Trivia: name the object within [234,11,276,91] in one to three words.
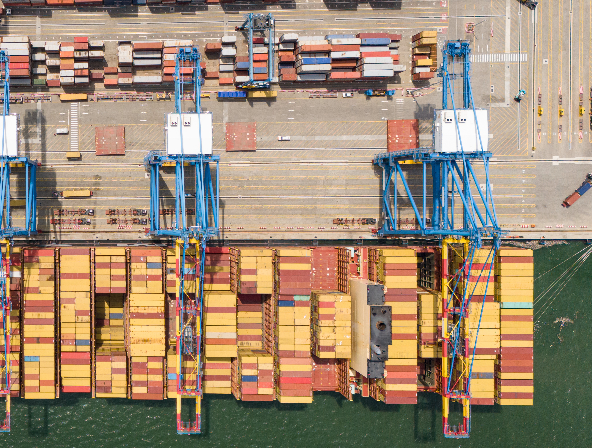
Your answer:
container crane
